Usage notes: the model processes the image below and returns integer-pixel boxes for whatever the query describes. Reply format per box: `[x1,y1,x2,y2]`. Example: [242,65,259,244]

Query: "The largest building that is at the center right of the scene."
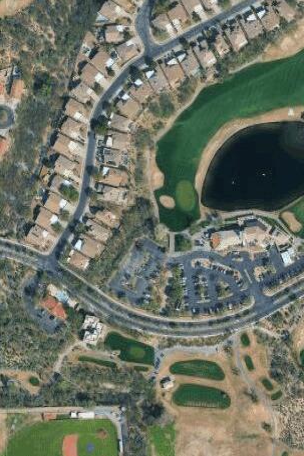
[209,228,291,251]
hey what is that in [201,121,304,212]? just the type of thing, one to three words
pond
